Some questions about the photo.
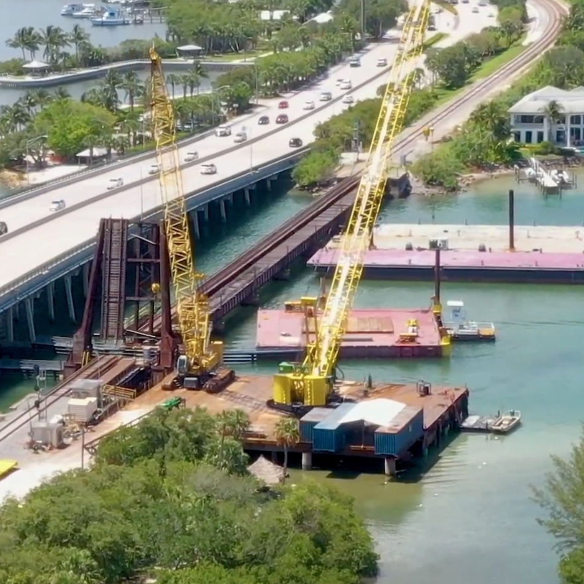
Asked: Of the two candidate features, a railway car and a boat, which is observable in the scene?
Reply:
boat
